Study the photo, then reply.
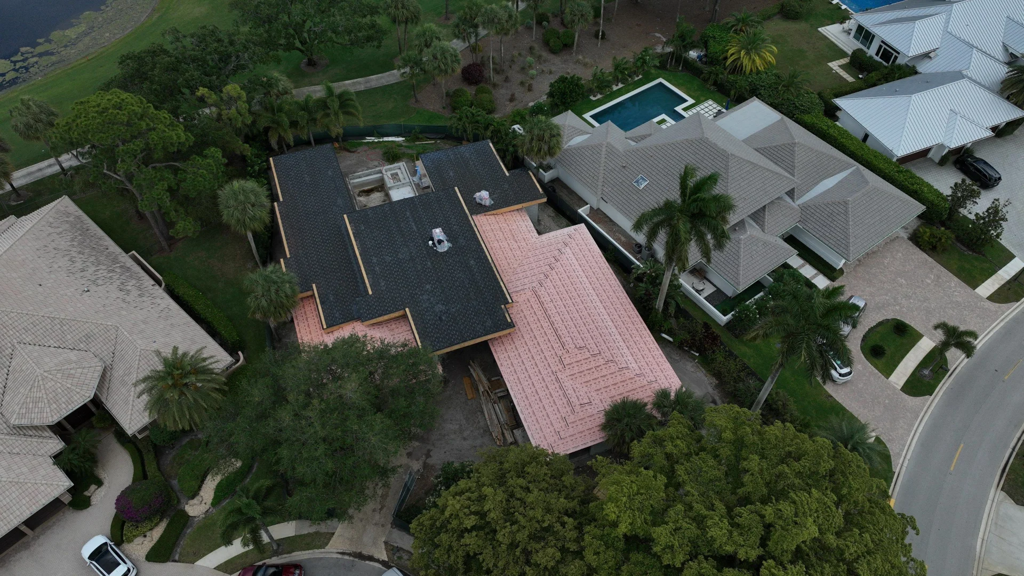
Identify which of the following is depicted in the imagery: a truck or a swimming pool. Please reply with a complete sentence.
The image shows a swimming pool.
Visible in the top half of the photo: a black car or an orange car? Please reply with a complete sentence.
The one visible in the top half of the photo is a black car.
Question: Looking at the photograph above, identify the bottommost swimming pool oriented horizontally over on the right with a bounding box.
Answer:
[579,76,698,133]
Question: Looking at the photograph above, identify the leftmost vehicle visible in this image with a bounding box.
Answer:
[81,529,149,576]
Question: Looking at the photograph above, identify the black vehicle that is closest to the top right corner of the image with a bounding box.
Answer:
[948,157,1009,195]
